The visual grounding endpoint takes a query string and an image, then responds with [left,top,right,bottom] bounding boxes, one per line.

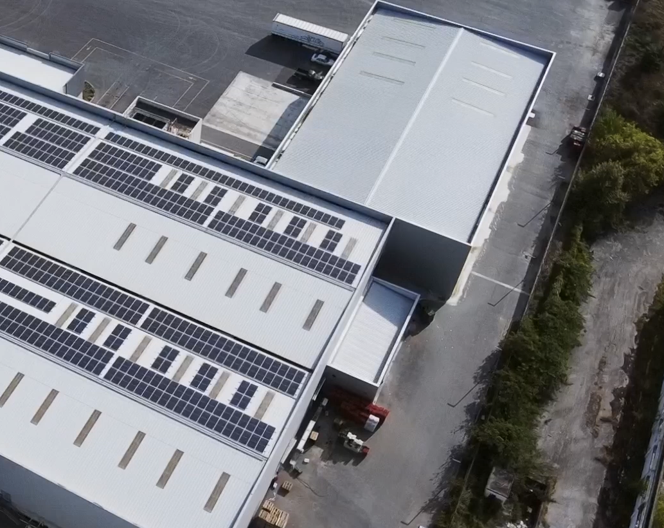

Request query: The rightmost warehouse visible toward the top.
[262,0,557,302]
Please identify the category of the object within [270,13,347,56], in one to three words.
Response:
trailer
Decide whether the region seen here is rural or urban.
urban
